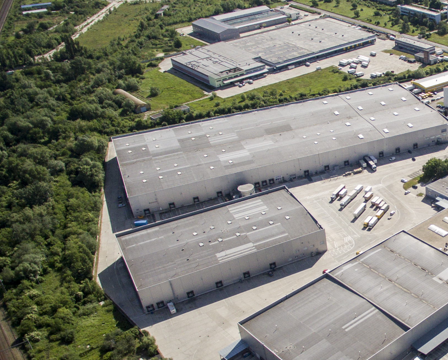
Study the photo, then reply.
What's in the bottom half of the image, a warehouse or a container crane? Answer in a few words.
warehouse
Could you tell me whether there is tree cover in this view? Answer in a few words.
Yes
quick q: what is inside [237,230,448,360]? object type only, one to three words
warehouse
